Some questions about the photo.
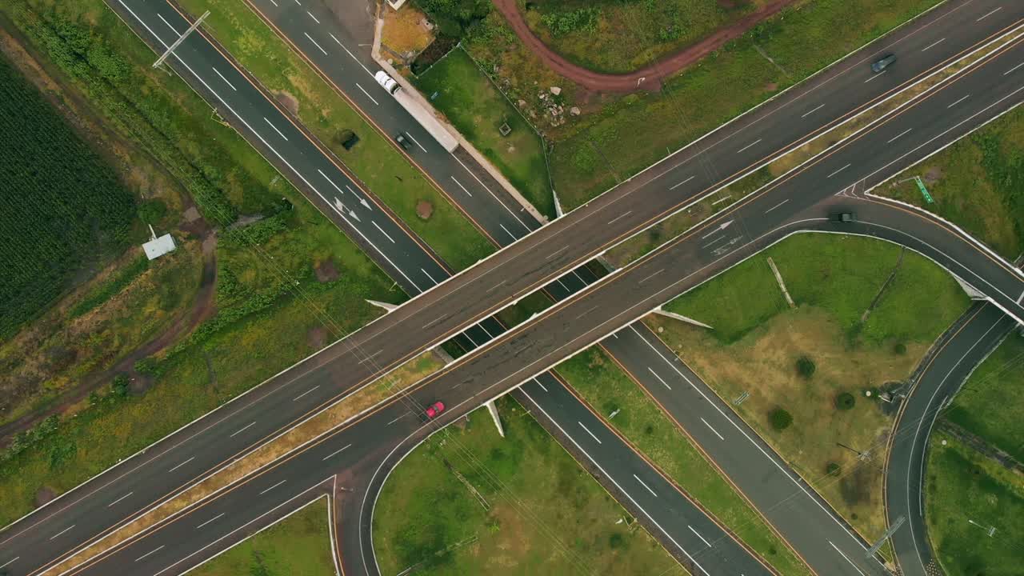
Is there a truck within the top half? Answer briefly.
Yes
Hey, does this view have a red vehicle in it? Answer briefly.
Yes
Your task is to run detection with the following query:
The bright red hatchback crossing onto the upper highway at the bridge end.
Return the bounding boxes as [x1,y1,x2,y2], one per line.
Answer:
[424,401,447,419]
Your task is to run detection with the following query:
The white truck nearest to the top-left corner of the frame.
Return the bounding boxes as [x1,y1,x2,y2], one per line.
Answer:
[375,72,460,156]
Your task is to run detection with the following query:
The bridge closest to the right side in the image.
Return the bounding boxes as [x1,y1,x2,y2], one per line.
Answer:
[957,239,1024,328]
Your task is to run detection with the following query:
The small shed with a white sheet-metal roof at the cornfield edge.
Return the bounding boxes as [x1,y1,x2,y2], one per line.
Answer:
[143,234,180,259]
